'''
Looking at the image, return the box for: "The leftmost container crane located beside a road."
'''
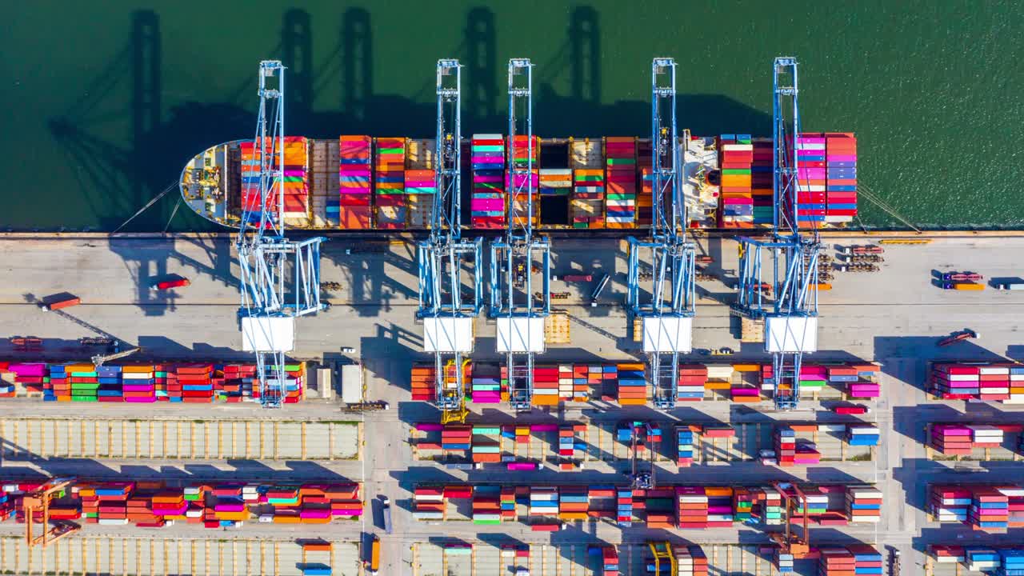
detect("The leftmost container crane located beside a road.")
[24,476,79,547]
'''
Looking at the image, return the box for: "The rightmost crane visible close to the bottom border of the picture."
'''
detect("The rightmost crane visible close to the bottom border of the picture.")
[767,483,809,561]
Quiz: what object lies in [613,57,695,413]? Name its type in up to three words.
container crane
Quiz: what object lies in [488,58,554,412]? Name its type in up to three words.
container crane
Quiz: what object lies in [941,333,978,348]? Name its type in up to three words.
vehicle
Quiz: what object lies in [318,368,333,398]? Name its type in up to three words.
shed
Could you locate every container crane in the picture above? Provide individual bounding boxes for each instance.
[233,60,338,411]
[644,541,676,576]
[767,483,809,561]
[24,476,79,547]
[488,58,554,412]
[443,354,472,424]
[419,59,492,412]
[623,421,656,495]
[613,57,695,413]
[718,57,831,413]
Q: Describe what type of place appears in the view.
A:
port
